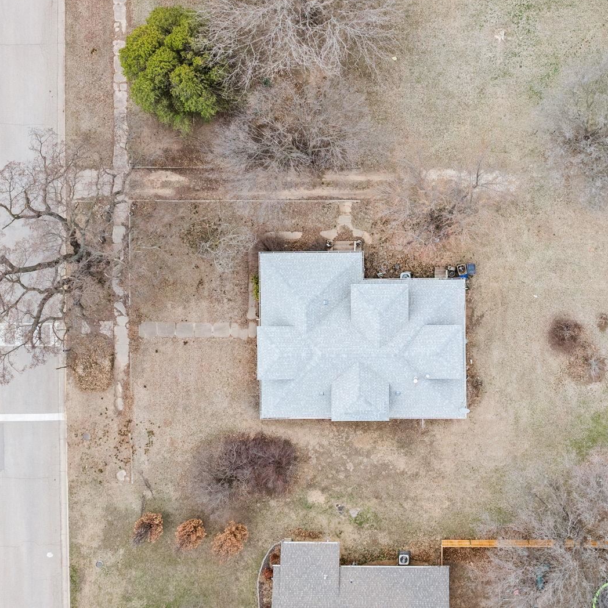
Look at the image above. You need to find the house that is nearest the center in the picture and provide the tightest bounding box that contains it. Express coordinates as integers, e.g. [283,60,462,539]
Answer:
[256,252,470,425]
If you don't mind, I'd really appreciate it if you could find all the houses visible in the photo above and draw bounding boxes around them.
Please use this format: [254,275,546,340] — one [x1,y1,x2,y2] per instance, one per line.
[256,252,470,425]
[270,531,449,608]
